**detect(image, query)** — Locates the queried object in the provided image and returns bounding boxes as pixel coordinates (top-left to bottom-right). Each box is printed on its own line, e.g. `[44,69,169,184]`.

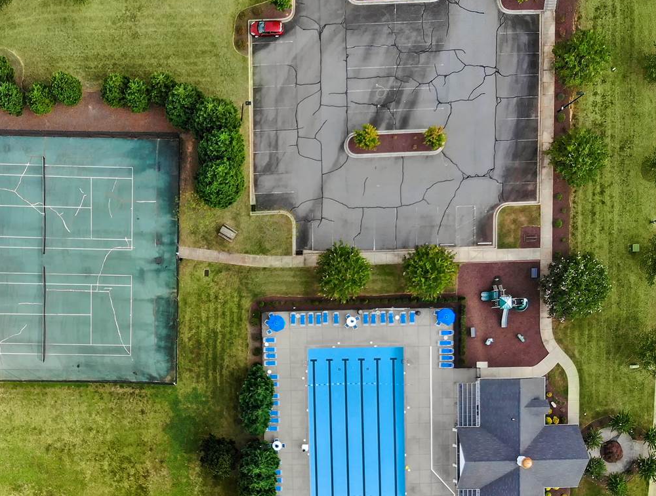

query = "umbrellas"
[437,307,455,326]
[268,315,285,332]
